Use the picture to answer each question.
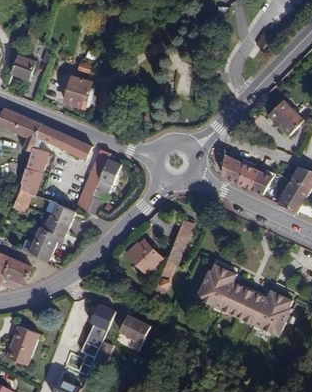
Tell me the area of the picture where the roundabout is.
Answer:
center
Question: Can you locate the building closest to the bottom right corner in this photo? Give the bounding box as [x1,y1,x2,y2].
[200,266,294,338]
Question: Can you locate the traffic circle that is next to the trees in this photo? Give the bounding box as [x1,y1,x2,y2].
[111,120,232,212]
